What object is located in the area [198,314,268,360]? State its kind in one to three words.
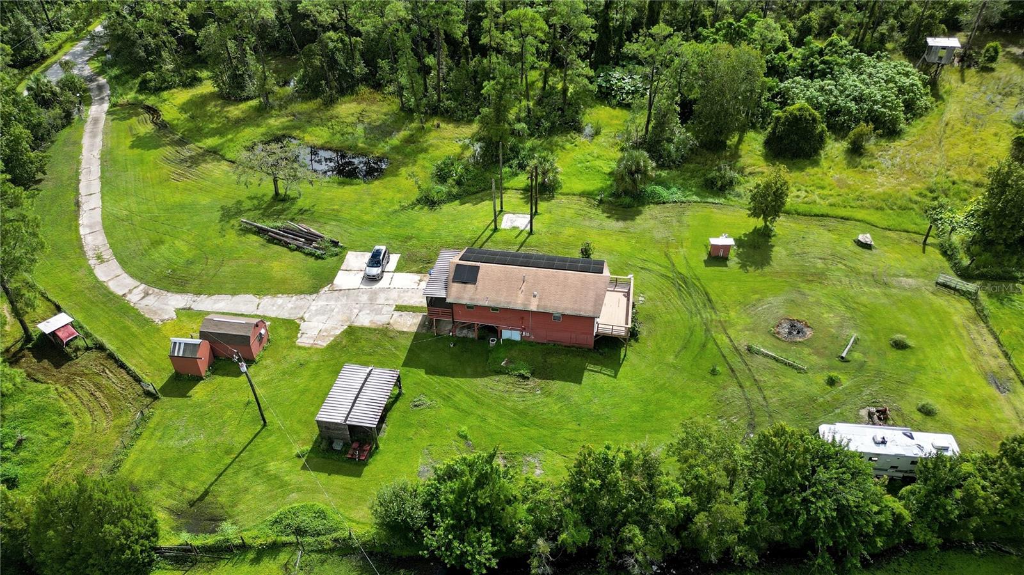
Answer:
shed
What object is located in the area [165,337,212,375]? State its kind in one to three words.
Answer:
shed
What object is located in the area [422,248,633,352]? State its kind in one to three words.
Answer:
house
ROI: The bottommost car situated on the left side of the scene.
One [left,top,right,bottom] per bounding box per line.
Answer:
[364,247,388,278]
